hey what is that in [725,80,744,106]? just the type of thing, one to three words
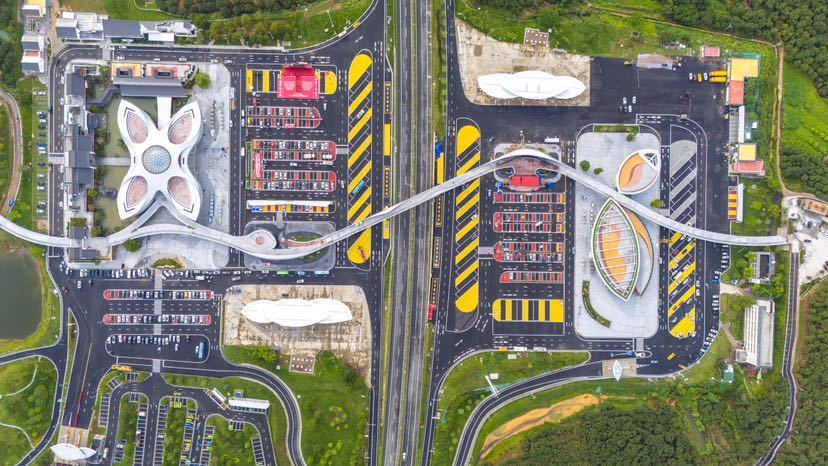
building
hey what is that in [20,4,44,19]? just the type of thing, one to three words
house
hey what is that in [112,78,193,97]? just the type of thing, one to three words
building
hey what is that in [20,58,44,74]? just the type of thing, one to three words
house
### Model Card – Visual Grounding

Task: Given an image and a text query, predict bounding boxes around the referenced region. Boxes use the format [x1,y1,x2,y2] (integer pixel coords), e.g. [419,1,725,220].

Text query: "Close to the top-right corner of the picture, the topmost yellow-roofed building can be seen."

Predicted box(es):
[726,58,758,79]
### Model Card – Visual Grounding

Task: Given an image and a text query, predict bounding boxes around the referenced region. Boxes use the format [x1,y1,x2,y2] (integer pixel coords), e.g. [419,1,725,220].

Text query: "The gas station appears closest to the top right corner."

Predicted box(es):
[477,71,585,100]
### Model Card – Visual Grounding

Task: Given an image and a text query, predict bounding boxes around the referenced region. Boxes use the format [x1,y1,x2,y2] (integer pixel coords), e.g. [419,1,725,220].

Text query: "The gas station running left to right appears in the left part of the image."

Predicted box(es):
[241,299,353,328]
